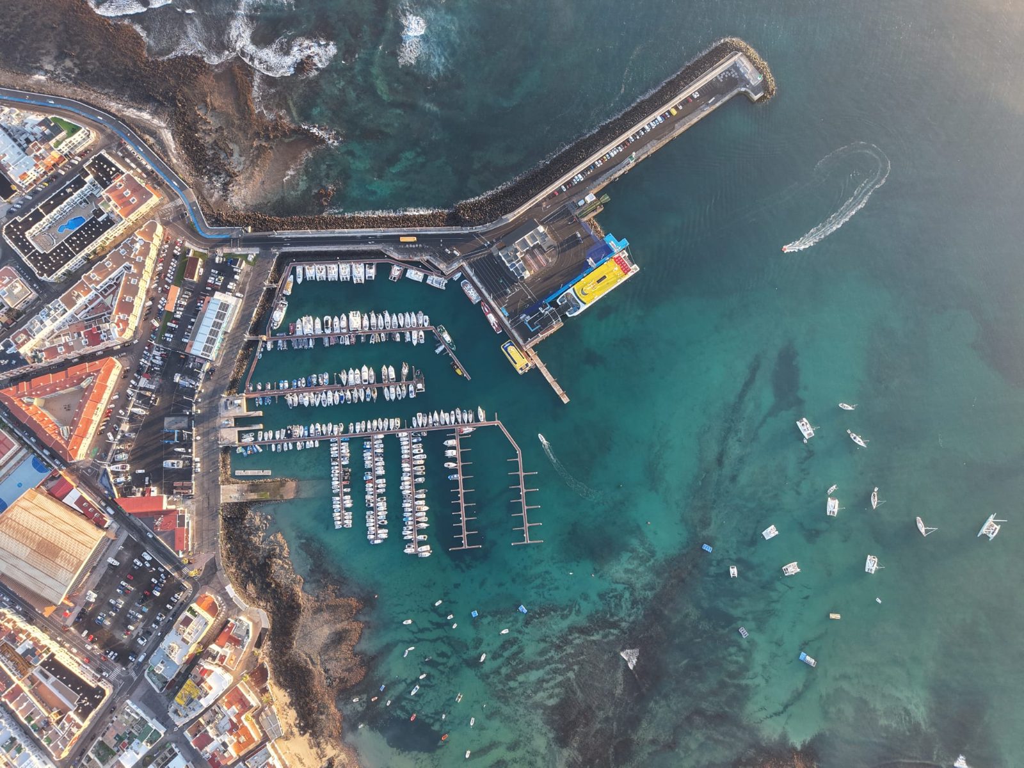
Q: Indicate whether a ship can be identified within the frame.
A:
Yes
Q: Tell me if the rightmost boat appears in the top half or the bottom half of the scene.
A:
bottom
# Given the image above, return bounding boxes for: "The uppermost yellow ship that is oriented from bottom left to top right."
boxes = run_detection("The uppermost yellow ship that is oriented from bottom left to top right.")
[557,251,643,318]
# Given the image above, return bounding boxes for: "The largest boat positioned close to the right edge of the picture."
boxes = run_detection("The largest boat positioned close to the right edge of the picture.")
[974,514,1014,544]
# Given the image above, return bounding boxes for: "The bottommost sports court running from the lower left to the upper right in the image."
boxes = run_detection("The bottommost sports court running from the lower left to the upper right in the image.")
[0,454,52,513]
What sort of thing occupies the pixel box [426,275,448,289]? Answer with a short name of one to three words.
boat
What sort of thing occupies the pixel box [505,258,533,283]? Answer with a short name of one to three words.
building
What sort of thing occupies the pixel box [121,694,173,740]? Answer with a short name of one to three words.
house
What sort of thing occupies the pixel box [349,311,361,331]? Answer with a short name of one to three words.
boat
